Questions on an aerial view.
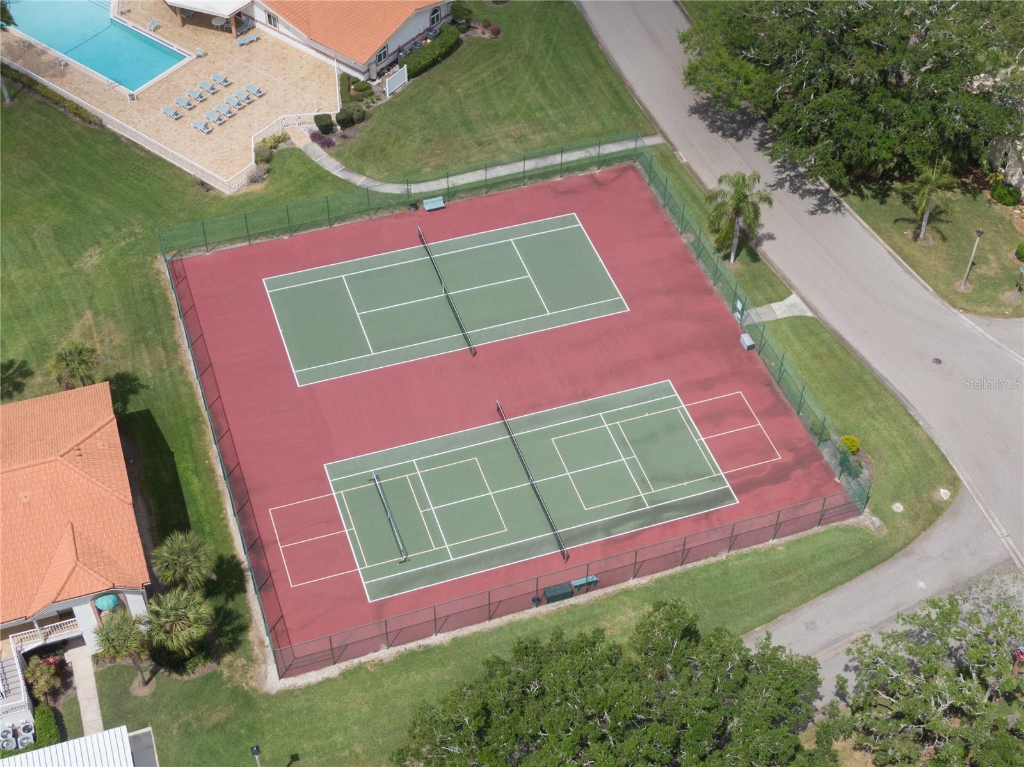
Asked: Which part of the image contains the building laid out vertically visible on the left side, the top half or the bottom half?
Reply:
bottom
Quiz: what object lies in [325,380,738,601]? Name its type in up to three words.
tennis court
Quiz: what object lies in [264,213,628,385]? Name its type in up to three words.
tennis court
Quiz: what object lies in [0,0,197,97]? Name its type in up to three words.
swimming pool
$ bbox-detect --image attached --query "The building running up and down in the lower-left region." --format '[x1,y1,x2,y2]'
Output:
[0,382,158,740]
